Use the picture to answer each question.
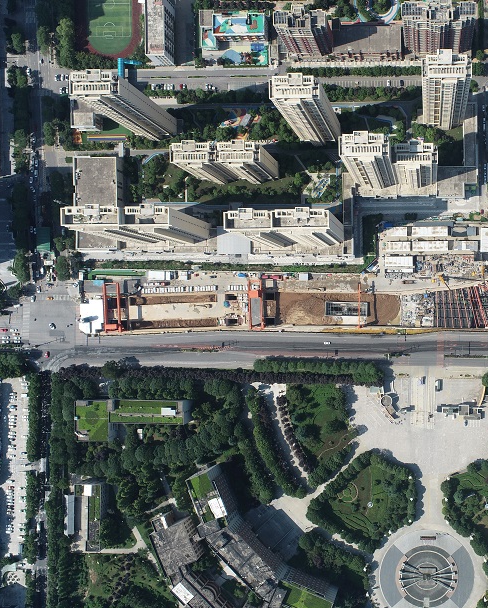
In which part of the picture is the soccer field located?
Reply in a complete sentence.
The soccer field appears toward the top left of the photo.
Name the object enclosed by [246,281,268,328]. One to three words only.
container crane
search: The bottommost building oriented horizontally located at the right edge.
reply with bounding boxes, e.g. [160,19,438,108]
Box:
[441,404,482,420]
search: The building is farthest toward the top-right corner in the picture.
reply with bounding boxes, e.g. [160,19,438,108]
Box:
[401,0,475,54]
